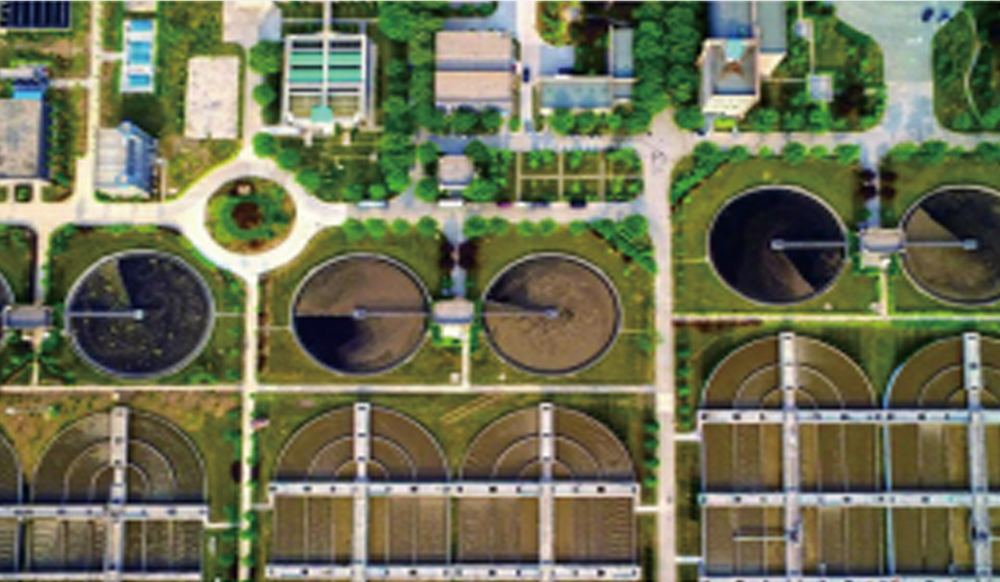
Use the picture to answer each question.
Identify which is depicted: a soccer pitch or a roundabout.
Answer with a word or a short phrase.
roundabout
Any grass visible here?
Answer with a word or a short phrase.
Yes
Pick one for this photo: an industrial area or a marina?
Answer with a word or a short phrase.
industrial area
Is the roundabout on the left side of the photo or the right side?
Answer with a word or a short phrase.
left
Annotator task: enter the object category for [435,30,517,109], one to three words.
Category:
building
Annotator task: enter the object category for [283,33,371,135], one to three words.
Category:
building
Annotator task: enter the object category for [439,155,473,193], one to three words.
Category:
house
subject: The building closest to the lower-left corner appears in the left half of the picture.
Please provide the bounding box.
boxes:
[3,306,58,328]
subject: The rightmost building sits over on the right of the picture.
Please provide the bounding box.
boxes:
[856,229,903,252]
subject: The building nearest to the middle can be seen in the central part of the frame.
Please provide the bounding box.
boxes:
[433,301,474,323]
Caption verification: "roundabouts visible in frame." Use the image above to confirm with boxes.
[206,178,297,252]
